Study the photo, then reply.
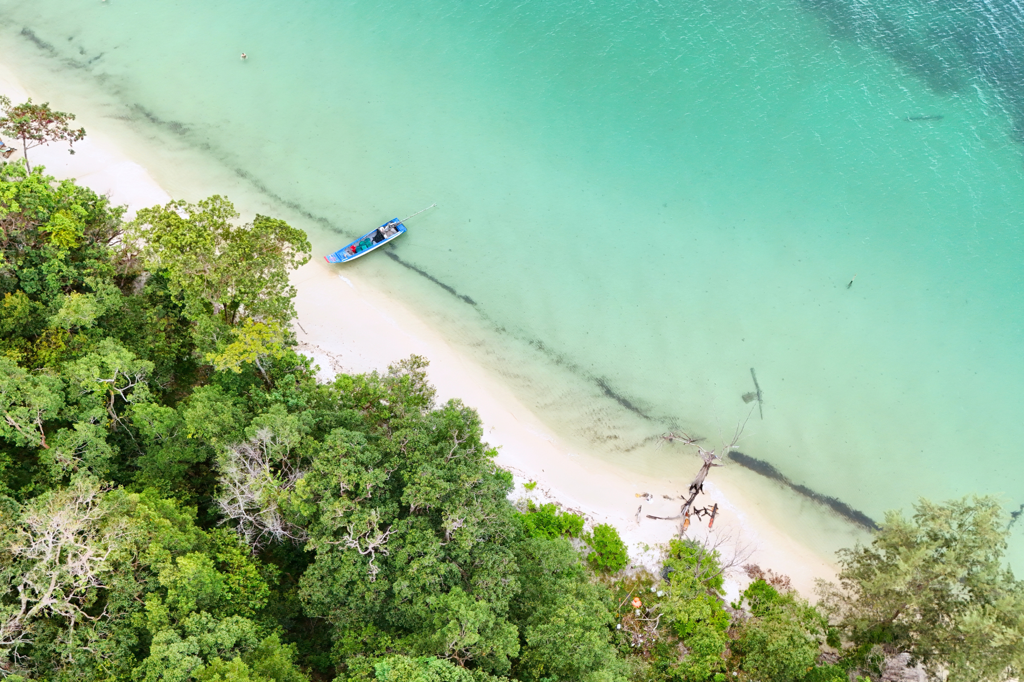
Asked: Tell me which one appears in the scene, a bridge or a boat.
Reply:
boat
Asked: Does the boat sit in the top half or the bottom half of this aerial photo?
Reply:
top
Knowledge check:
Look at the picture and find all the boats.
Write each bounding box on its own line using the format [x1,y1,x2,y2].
[322,202,437,264]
